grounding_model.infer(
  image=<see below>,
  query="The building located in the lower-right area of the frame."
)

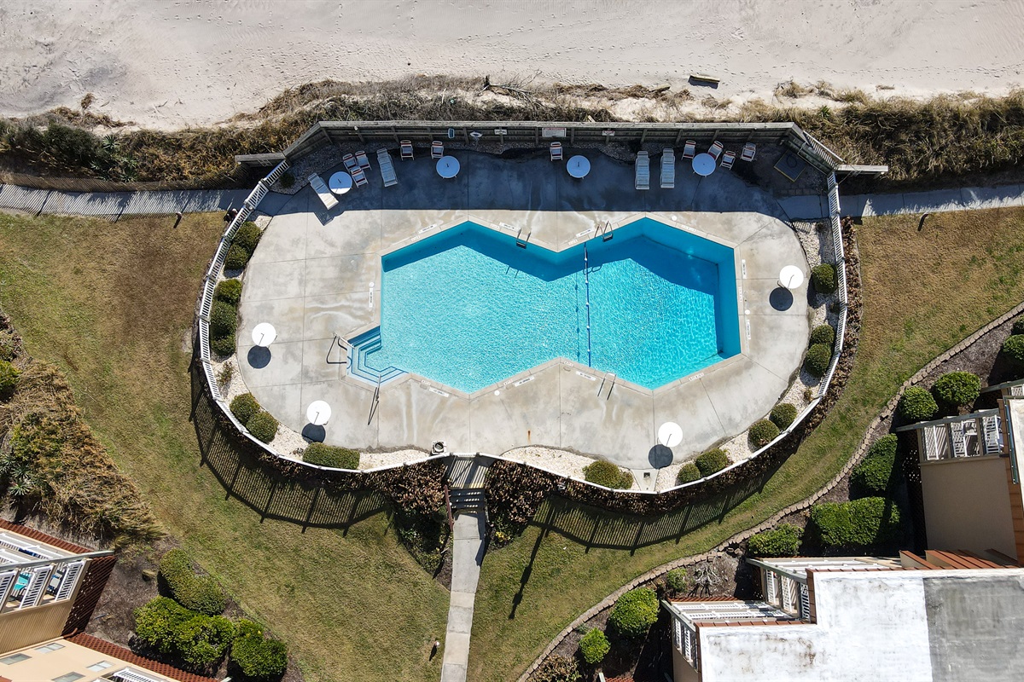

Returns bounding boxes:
[598,380,1024,682]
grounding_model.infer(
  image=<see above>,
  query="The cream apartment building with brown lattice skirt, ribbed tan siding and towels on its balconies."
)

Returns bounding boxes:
[0,519,230,682]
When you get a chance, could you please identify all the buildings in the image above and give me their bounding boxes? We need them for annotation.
[0,519,230,682]
[598,380,1024,682]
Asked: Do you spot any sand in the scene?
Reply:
Yes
